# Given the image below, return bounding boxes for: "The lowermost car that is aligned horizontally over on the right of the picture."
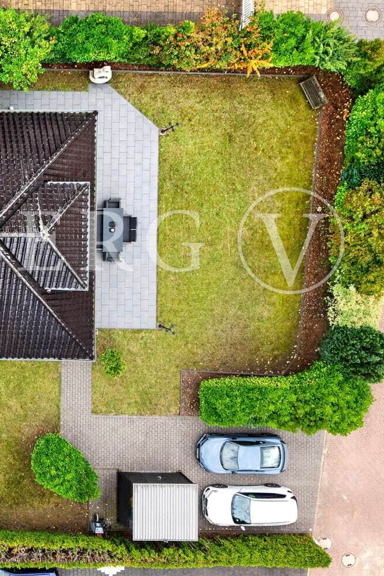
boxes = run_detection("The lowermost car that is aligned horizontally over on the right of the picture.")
[201,485,298,531]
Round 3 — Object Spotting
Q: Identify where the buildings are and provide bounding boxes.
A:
[117,472,198,544]
[0,107,100,362]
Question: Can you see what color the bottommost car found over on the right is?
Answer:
white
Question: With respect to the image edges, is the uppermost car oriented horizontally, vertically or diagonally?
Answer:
horizontally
